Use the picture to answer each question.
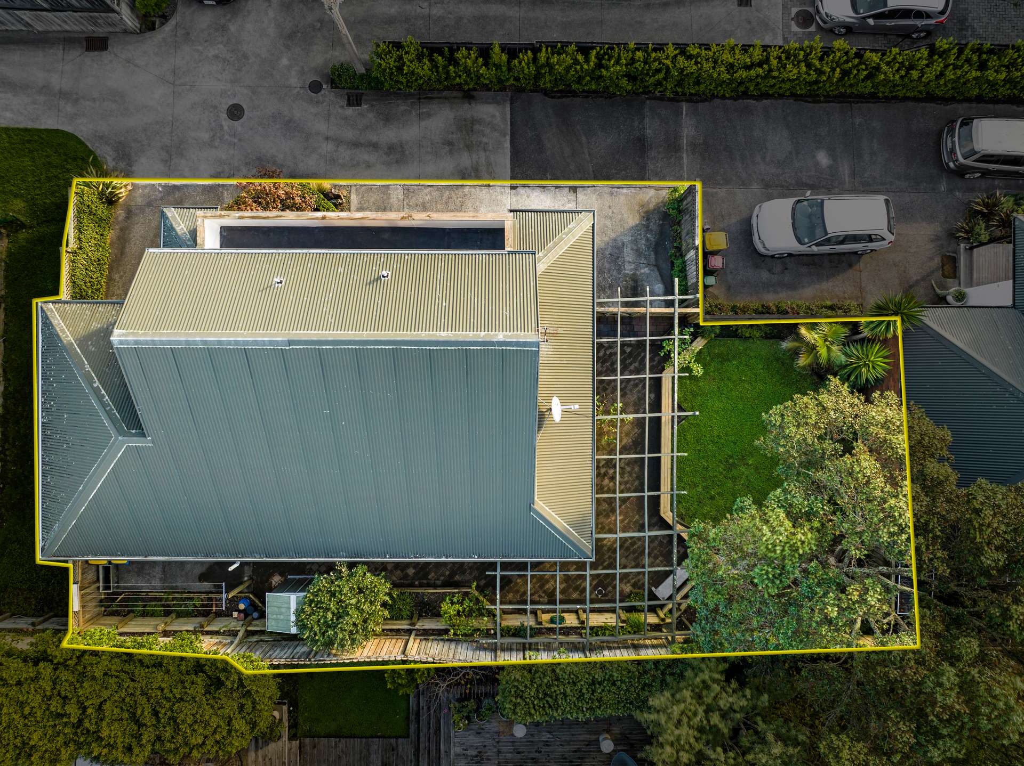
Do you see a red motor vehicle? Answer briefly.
No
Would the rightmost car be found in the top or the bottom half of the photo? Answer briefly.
top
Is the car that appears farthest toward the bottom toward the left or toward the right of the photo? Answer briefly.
right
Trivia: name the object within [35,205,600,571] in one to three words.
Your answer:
house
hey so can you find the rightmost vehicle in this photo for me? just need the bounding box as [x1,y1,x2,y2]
[940,112,1024,180]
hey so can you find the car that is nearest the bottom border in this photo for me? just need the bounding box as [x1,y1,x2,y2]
[749,187,898,258]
